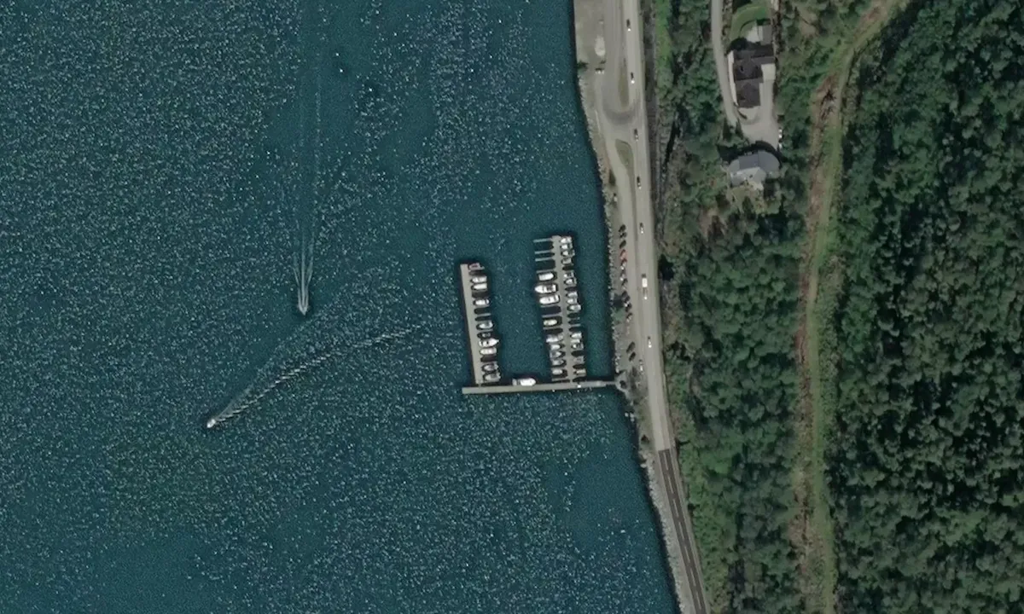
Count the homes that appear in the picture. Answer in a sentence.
The picture shows 2 homes.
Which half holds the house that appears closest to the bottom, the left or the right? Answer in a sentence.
The house that appears closest to the bottom sits on the right side.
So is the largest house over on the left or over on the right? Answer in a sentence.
It is on the right.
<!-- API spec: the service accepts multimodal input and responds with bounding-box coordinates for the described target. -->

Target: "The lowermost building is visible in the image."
[729,149,780,186]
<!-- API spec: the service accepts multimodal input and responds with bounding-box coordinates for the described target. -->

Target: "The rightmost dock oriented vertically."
[535,236,586,380]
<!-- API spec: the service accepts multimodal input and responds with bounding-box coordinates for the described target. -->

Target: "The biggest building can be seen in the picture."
[735,42,776,107]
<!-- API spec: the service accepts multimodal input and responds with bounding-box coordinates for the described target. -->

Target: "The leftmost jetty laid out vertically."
[461,264,500,386]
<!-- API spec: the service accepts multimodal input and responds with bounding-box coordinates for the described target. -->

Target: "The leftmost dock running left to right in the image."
[462,380,606,394]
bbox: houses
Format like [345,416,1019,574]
[735,42,776,107]
[729,149,780,186]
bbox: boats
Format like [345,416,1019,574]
[572,333,583,339]
[207,417,216,425]
[576,369,587,375]
[549,344,561,350]
[551,369,563,375]
[485,373,501,381]
[550,351,562,358]
[474,283,488,290]
[572,343,584,349]
[535,284,556,293]
[562,250,576,256]
[484,363,499,371]
[564,272,576,278]
[478,339,500,348]
[573,357,585,363]
[513,378,535,385]
[473,277,488,283]
[566,278,576,284]
[538,273,554,281]
[475,299,490,305]
[560,237,573,243]
[480,347,497,355]
[550,359,564,366]
[479,321,494,329]
[546,334,563,342]
[469,262,482,270]
[570,304,582,311]
[540,295,560,304]
[542,319,557,326]
[567,298,578,304]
